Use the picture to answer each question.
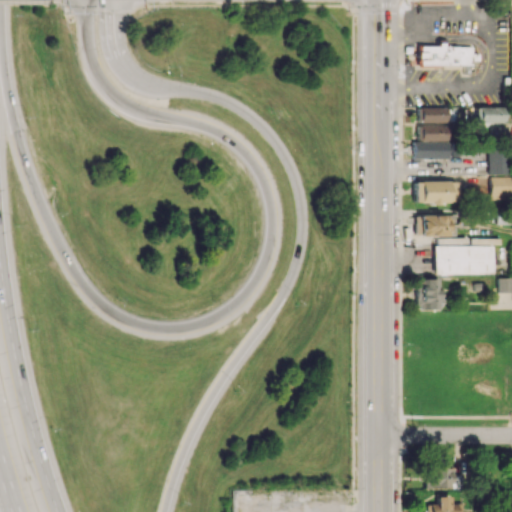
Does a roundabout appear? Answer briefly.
No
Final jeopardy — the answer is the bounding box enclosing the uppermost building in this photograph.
[418,40,484,68]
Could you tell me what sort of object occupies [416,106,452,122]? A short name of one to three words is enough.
house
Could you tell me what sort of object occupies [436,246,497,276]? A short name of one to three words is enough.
building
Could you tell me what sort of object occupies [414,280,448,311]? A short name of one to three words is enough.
house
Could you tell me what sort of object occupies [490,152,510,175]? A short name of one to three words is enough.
building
